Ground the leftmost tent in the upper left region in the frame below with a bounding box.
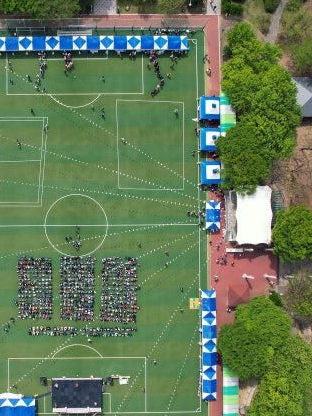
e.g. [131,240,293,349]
[0,36,26,53]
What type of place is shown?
sports ground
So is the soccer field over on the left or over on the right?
left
